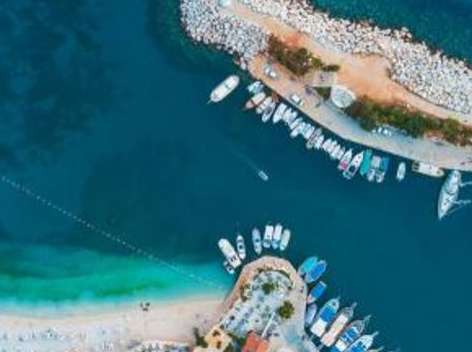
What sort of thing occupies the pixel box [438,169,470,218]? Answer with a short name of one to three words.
boat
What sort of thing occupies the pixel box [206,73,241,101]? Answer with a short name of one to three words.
boat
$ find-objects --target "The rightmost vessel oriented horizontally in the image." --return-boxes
[412,162,446,176]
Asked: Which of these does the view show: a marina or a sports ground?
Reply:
marina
